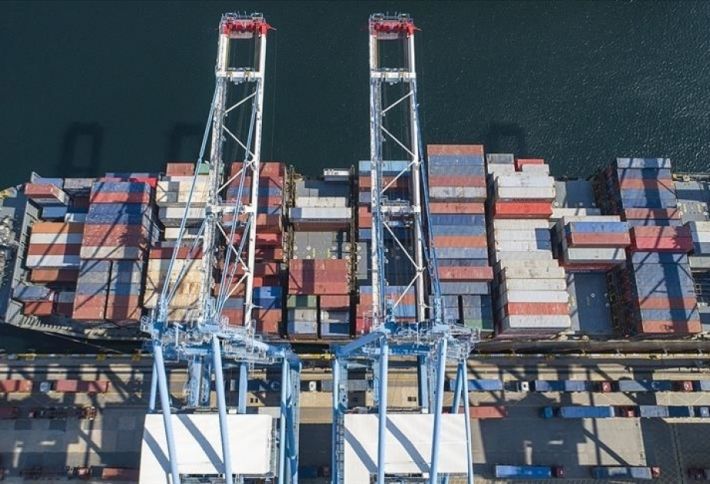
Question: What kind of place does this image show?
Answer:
port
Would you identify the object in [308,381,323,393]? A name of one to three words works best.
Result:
vehicle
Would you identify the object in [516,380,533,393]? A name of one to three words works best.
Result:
vehicle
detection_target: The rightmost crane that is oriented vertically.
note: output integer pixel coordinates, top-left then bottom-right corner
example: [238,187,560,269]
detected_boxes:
[324,8,478,484]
